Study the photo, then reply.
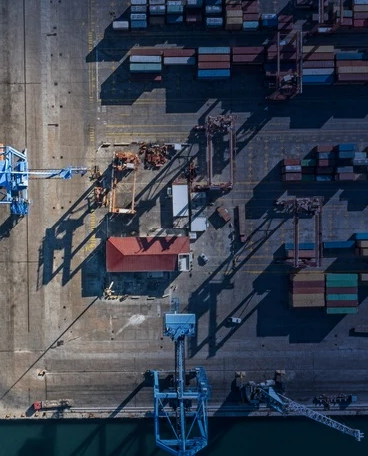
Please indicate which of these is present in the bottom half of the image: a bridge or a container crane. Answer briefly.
container crane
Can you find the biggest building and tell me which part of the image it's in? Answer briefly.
center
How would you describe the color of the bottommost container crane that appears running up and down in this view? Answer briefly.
blue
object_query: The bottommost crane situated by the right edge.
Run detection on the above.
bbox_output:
[236,371,366,440]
